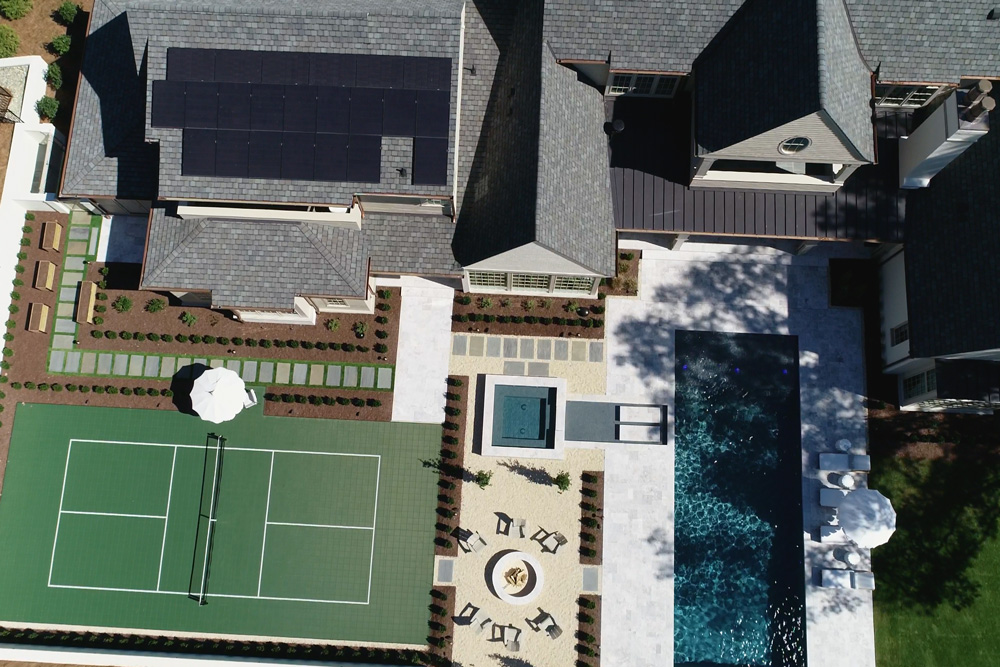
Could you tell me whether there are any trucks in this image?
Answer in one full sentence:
No, there is no truck in the image.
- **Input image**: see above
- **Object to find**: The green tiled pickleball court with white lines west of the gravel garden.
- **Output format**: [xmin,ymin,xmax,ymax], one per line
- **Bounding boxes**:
[0,386,443,643]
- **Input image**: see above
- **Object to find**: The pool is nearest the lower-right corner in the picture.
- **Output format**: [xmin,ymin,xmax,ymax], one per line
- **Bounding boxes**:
[674,330,807,667]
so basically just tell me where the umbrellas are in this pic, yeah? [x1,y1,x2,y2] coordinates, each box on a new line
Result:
[835,488,897,551]
[192,367,250,424]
